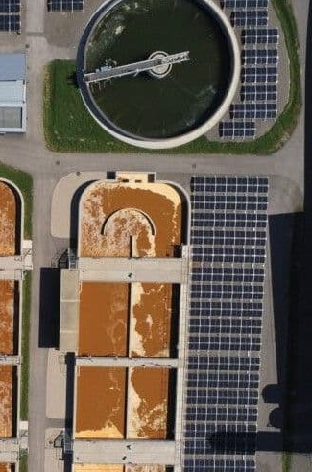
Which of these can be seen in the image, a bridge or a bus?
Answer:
bridge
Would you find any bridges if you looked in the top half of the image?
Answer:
Yes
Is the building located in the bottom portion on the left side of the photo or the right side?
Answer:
left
